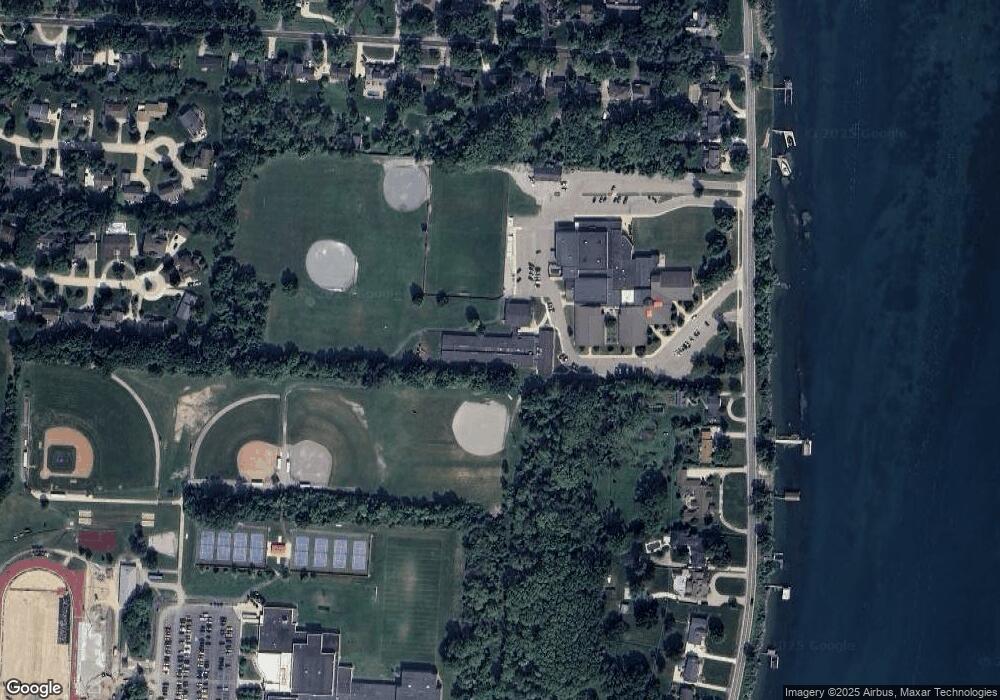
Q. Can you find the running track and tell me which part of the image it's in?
bottom left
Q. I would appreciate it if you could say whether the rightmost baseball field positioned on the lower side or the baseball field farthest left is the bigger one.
the baseball field farthest left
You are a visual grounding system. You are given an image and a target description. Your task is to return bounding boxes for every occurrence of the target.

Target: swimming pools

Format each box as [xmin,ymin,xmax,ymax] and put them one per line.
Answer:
[646,539,662,552]
[364,79,385,99]
[107,223,127,233]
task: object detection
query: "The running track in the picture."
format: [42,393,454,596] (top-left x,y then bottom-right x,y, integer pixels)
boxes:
[0,559,86,700]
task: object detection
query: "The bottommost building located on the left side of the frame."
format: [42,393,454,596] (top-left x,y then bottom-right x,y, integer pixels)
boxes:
[242,608,438,700]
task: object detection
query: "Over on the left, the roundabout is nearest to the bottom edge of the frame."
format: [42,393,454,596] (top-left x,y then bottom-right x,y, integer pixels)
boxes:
[138,268,169,301]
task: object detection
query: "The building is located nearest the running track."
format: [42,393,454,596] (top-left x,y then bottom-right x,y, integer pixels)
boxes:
[119,565,136,610]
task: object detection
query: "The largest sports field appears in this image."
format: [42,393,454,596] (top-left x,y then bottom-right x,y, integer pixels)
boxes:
[237,154,500,350]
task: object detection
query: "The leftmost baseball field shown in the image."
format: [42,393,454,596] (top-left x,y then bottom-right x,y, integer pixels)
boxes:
[26,374,160,489]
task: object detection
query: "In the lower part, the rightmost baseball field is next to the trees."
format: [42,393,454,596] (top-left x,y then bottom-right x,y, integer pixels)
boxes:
[452,401,508,456]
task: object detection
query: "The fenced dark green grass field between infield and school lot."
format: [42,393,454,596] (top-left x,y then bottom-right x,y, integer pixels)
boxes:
[425,164,507,296]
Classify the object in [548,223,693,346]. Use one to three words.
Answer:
building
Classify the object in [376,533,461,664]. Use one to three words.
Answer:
sports field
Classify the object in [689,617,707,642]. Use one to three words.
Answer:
house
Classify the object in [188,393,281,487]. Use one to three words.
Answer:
baseball field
